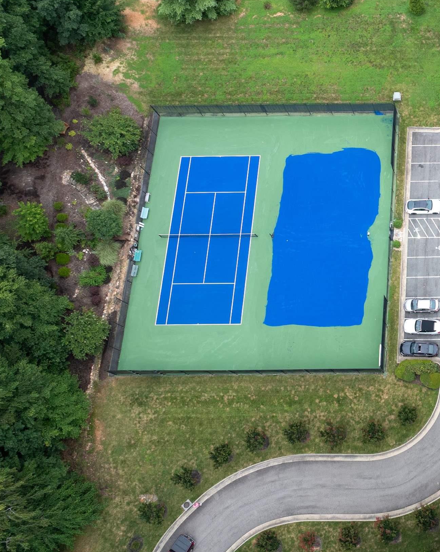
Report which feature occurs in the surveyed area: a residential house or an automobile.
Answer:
automobile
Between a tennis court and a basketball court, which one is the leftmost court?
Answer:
tennis court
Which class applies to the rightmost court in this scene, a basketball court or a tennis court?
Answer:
tennis court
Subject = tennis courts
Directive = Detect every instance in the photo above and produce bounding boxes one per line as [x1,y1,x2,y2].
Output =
[263,147,380,327]
[154,156,260,325]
